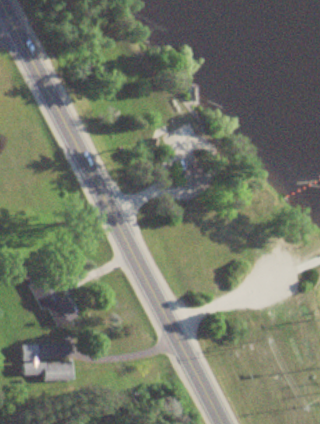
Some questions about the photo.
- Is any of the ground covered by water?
Yes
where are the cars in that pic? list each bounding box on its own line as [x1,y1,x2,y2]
[27,40,35,52]
[180,157,186,167]
[86,154,94,164]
